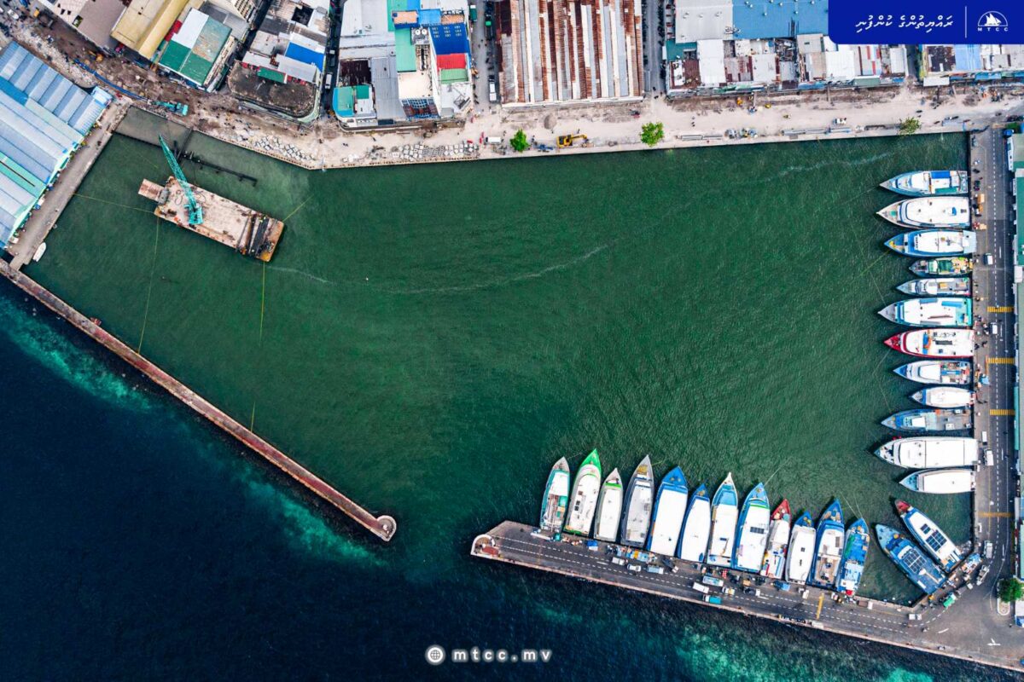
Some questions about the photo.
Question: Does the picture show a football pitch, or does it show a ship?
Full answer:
It is a ship that can be seen here.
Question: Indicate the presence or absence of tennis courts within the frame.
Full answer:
No, the picture doesn't show any tennis court.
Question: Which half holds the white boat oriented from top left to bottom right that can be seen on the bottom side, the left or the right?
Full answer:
The white boat oriented from top left to bottom right that can be seen on the bottom side appears in the right half of the scene.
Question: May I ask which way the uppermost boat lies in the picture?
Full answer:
In this picture, the uppermost boat lies horizontally.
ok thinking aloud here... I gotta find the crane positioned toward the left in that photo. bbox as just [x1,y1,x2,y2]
[157,131,206,230]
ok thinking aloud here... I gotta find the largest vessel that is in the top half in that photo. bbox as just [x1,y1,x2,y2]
[80,176,312,350]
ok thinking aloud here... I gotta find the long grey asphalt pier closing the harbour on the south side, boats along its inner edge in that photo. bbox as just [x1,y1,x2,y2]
[471,520,946,649]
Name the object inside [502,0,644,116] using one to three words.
warehouse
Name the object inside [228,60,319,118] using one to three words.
building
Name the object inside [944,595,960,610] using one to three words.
vehicle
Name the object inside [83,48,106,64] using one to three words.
work vehicle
